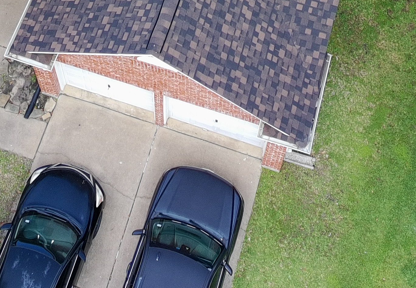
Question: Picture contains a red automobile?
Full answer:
No, the scene contains no red automobile.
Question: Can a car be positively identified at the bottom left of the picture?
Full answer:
Yes, a car is visible at the bottom left of the picture.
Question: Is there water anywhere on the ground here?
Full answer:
No, no water is visible.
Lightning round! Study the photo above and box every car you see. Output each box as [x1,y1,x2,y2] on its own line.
[125,155,242,288]
[0,159,107,288]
